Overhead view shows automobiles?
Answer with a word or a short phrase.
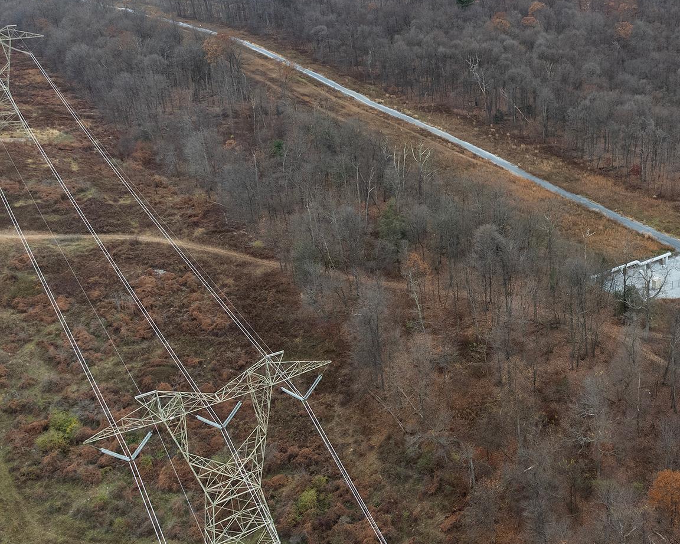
No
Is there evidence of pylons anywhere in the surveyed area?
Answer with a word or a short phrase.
Yes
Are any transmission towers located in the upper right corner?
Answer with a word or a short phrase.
No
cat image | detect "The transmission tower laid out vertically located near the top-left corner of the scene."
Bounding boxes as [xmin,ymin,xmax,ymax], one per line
[0,26,41,140]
